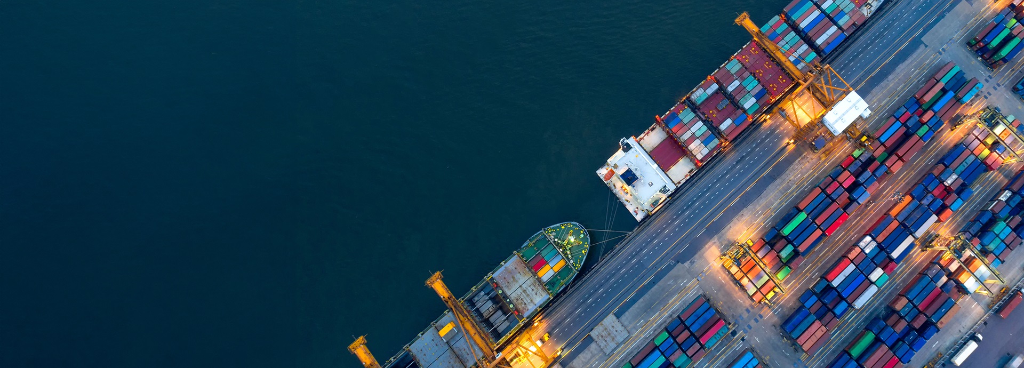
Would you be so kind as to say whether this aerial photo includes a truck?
Yes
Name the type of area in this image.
port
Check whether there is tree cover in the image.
No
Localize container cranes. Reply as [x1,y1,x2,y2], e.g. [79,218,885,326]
[732,7,878,156]
[425,272,570,368]
[921,227,1007,296]
[952,106,1024,172]
[348,338,383,368]
[719,235,785,305]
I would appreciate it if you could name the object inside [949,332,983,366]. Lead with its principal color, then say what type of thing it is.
white truck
